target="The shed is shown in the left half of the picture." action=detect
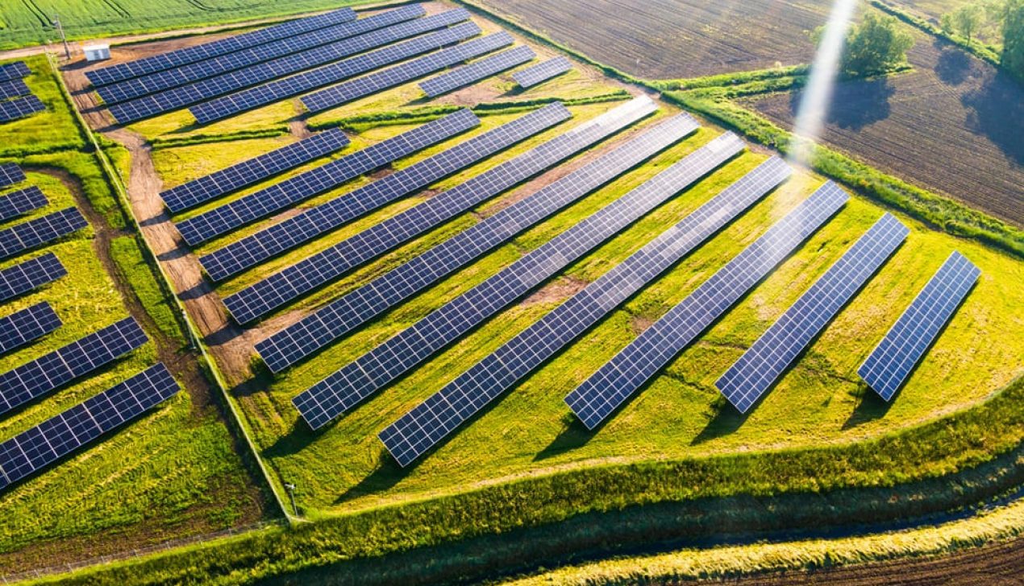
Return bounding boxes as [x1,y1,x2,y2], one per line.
[82,42,111,61]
